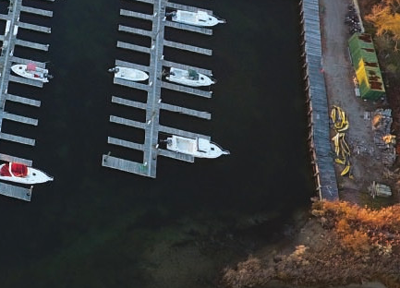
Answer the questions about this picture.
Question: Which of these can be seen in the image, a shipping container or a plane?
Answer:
shipping container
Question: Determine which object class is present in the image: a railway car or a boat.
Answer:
boat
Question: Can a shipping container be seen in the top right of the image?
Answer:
Yes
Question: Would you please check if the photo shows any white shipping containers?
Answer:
No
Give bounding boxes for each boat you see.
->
[8,61,54,82]
[166,67,220,85]
[0,162,58,184]
[163,135,235,158]
[113,66,149,80]
[168,7,227,27]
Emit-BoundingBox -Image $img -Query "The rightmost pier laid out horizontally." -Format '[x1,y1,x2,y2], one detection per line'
[101,155,156,179]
